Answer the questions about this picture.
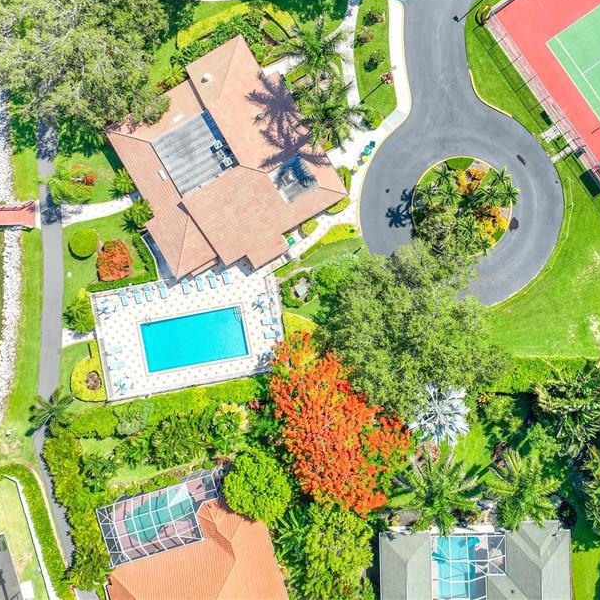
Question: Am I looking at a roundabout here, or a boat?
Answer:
roundabout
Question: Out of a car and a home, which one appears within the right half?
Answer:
home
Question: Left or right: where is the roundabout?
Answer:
right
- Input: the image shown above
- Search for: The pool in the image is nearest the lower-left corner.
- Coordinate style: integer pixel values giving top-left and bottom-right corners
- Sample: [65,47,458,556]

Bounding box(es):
[123,484,195,544]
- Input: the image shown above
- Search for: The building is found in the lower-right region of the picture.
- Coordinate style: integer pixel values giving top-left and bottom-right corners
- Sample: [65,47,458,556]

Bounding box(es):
[379,514,571,600]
